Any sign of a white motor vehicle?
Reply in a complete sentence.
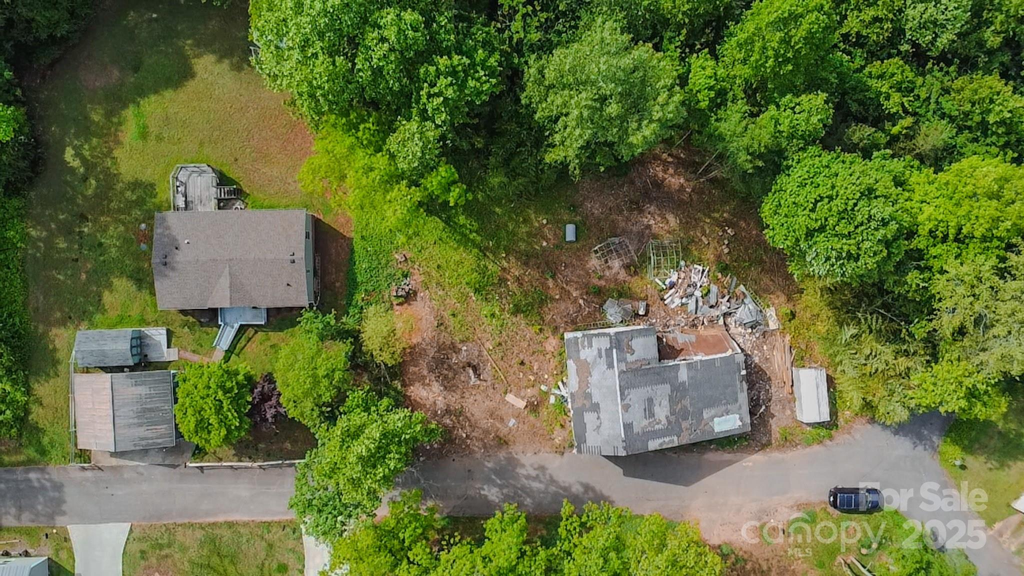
No, there isn't any white motor vehicle down there.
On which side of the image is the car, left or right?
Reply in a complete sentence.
You can find the car on the right side of the picture.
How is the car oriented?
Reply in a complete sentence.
In this picture, the car is oriented from side to side.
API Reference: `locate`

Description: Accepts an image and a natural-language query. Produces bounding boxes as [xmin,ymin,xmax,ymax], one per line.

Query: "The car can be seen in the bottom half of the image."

[827,487,881,513]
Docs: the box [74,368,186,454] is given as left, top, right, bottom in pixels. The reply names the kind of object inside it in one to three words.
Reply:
building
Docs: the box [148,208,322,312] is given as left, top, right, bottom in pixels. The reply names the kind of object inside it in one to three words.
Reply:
house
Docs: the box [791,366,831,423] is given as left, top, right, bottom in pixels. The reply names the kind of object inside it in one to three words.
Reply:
shed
